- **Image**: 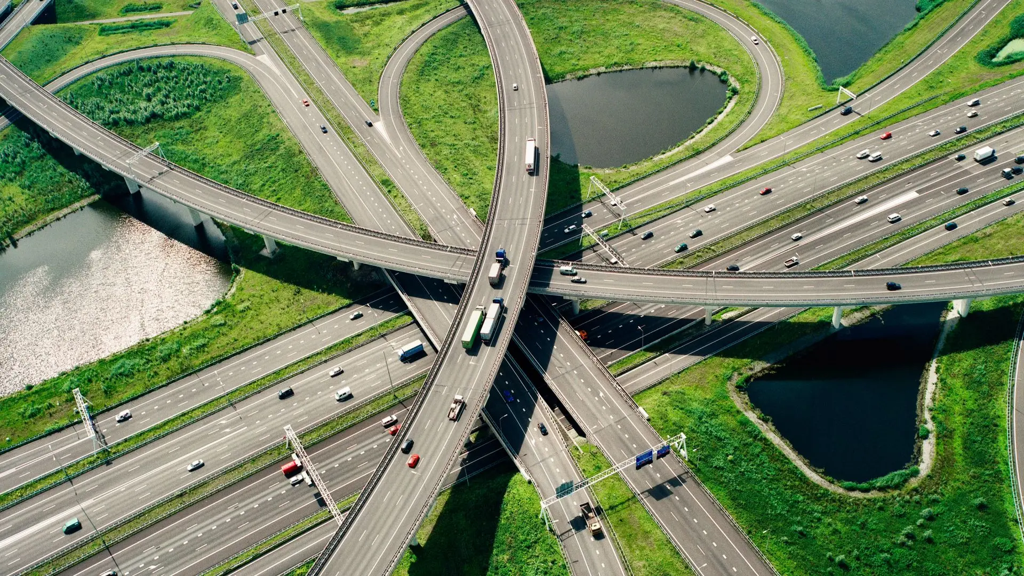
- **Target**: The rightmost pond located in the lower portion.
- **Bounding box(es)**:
[749,300,949,483]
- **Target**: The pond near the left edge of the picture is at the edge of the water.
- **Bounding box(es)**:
[0,184,231,396]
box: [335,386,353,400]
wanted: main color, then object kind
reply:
white vehicle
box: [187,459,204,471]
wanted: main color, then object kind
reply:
white vehicle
